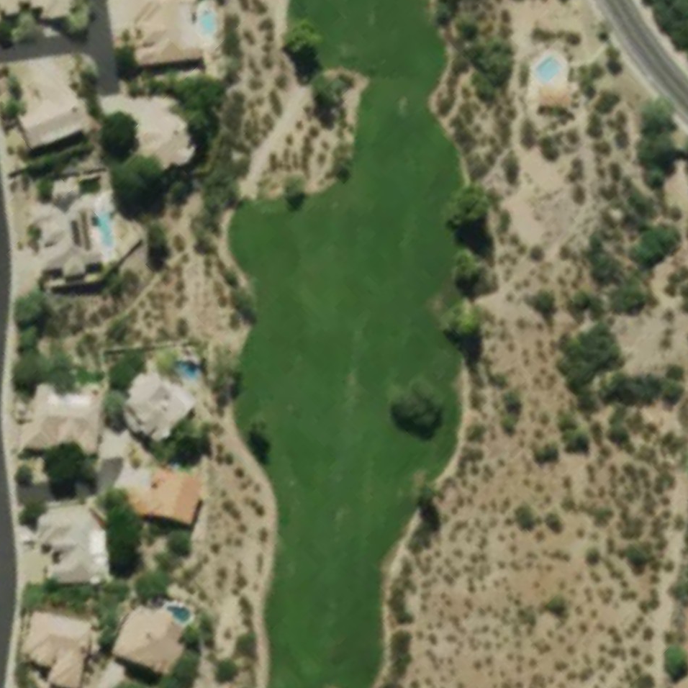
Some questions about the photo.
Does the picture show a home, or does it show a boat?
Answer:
home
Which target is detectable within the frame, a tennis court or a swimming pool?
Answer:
swimming pool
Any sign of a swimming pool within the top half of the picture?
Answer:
Yes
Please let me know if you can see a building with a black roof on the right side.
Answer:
No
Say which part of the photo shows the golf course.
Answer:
center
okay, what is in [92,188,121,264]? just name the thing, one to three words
swimming pool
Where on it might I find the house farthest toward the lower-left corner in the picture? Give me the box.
[25,612,92,688]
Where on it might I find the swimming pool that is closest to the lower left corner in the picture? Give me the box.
[172,601,193,626]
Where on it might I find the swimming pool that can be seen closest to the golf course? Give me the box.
[173,354,203,387]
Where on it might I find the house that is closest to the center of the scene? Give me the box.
[120,371,197,441]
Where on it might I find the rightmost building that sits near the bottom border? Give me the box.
[114,599,184,676]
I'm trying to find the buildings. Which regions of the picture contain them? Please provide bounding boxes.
[25,612,92,688]
[18,386,107,460]
[114,599,184,676]
[111,0,202,67]
[39,506,108,583]
[541,89,571,108]
[120,371,197,441]
[17,57,91,146]
[127,467,199,525]
[126,93,196,166]
[0,0,78,20]
[35,198,102,277]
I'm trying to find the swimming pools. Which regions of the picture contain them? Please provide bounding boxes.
[172,601,193,626]
[198,0,219,43]
[92,188,121,264]
[173,354,203,387]
[531,48,568,92]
